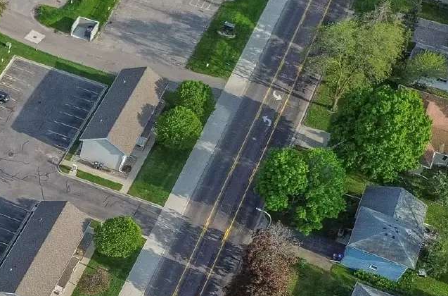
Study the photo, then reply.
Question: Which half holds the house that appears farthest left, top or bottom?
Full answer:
The bottom half of the photo is where the house that appears farthest left is.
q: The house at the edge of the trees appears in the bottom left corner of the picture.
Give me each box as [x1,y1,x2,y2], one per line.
[0,200,96,296]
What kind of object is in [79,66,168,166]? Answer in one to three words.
house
